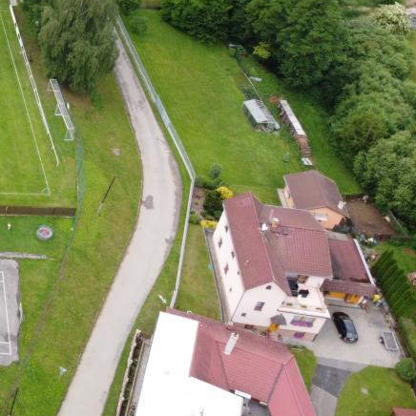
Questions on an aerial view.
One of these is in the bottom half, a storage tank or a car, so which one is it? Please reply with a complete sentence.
Visible in the bottom half is a car.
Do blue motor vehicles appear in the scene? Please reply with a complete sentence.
No, I can see no blue motor vehicle in this picture.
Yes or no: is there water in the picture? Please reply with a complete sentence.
No, no water is visible.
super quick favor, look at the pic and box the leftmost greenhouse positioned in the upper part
[236,95,279,131]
